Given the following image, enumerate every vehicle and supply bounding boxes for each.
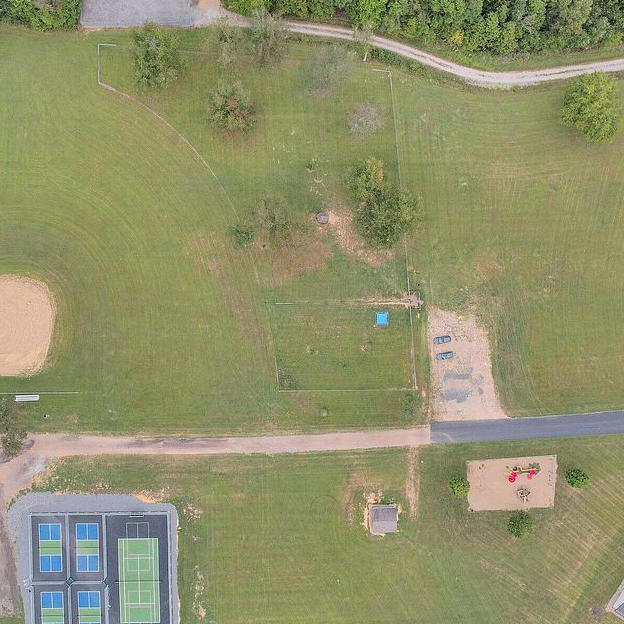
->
[435,335,451,344]
[437,351,453,360]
